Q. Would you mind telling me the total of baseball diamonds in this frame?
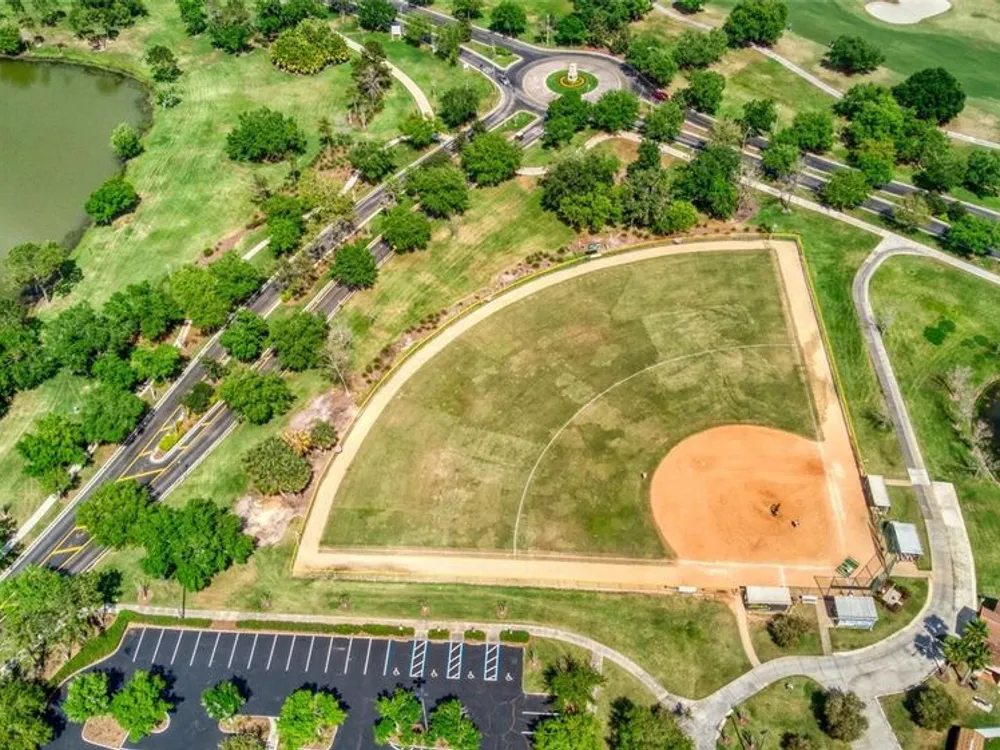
1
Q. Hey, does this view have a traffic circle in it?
Yes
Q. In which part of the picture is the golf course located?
top right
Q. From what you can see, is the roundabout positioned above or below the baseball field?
above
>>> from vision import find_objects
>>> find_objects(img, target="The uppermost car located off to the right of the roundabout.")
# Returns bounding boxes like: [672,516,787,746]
[650,86,670,100]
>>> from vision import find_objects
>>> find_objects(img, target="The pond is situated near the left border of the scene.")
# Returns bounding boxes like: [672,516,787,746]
[0,60,152,307]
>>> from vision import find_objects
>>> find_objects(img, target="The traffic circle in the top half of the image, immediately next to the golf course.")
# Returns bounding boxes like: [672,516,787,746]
[481,50,638,128]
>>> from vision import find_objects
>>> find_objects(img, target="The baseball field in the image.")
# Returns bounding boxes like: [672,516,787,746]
[291,239,891,602]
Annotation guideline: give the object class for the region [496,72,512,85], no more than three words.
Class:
vehicle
